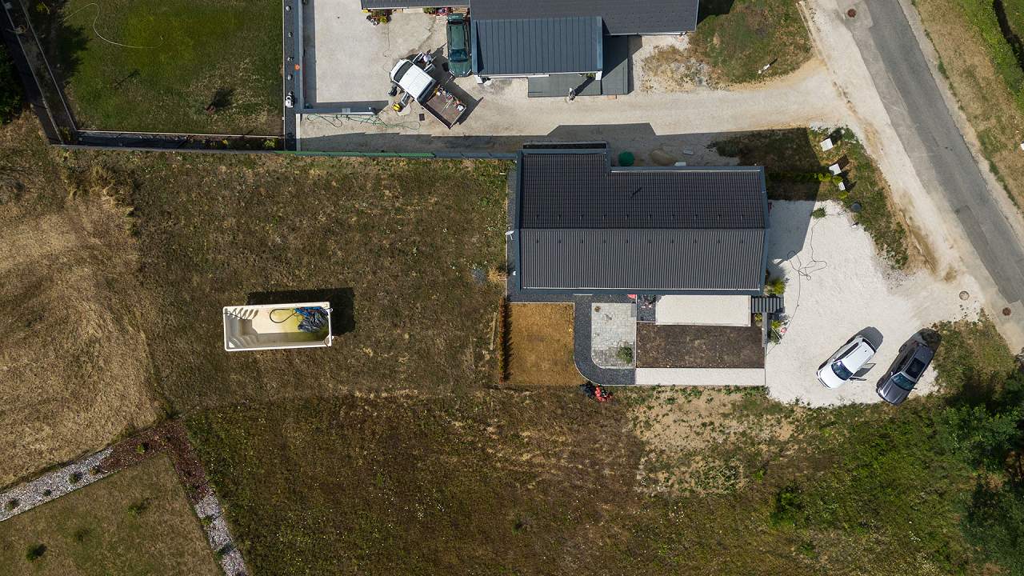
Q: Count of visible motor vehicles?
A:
4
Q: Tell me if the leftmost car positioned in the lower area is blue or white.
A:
white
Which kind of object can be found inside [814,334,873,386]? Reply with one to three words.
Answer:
car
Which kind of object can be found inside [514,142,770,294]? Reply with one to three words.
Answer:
house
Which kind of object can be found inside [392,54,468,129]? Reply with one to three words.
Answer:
truck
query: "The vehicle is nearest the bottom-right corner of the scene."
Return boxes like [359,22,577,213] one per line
[875,339,934,401]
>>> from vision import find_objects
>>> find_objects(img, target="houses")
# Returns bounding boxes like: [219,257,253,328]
[467,0,703,85]
[514,142,770,294]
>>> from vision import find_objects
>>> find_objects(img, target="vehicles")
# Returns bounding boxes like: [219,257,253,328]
[392,54,468,129]
[814,334,873,386]
[875,339,934,401]
[444,14,472,83]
